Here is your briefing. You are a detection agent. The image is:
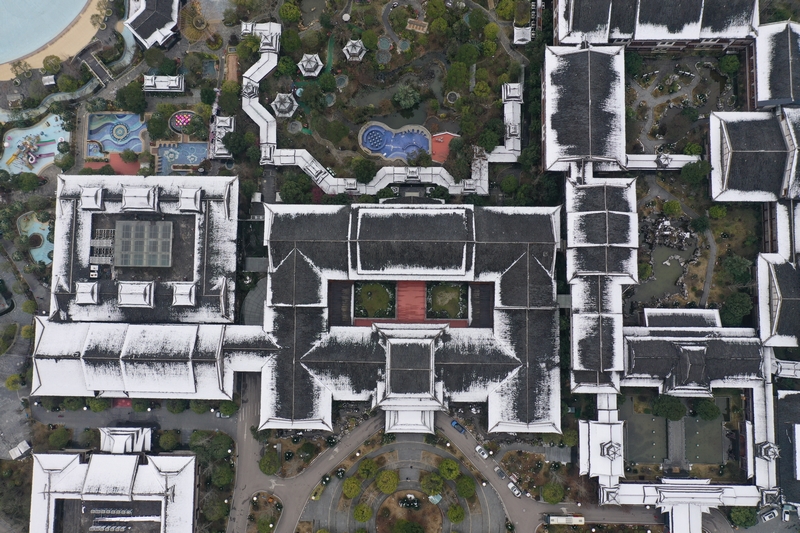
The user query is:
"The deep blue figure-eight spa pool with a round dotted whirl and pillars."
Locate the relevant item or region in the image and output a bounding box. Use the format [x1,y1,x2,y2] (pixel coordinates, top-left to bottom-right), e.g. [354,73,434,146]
[356,119,434,164]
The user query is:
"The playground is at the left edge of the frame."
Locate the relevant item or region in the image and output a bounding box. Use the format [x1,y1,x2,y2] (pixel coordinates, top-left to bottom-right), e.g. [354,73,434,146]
[4,131,55,170]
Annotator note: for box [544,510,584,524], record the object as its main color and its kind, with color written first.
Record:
white vehicle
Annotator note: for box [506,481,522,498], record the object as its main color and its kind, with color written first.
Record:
white car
